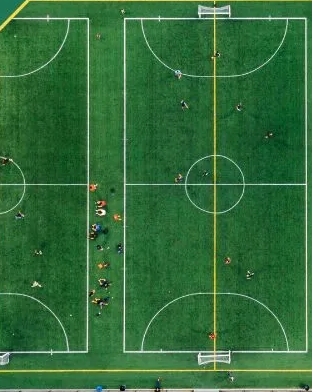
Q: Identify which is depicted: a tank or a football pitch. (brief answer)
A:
football pitch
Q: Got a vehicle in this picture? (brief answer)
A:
No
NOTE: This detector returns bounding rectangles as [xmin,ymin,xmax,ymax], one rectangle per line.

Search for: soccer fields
[122,16,307,352]
[0,16,89,355]
[0,0,312,390]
